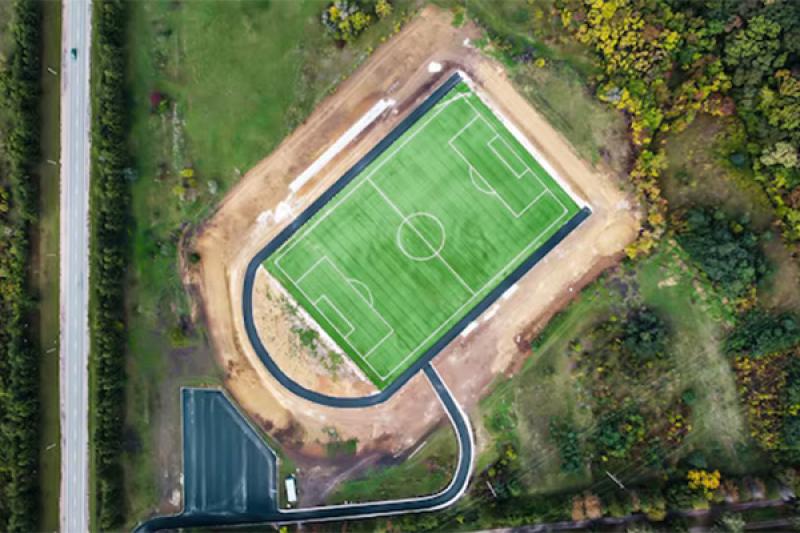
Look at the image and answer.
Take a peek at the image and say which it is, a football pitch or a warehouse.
football pitch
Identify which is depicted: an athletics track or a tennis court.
athletics track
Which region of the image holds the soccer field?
center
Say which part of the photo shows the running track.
center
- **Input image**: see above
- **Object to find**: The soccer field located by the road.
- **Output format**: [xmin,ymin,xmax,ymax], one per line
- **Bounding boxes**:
[263,80,580,391]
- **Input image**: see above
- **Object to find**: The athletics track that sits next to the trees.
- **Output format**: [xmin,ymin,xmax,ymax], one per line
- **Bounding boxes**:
[242,73,591,408]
